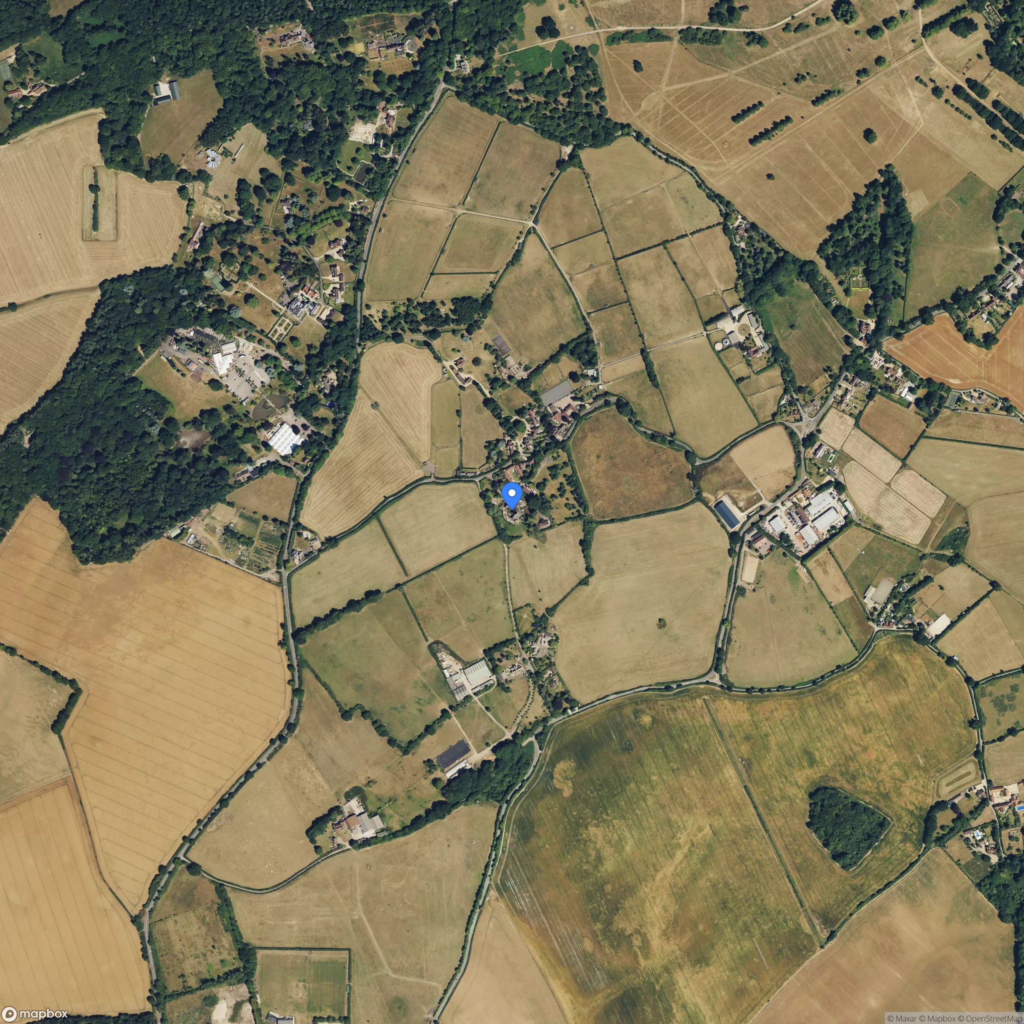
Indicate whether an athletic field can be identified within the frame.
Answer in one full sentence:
Yes, the frame does contain an athletic field.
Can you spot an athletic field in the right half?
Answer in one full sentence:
No, I see no athletic field in the right half.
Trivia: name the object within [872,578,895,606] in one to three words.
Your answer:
building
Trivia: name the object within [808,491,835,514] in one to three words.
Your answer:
building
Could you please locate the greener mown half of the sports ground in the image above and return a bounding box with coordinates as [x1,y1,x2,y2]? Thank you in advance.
[308,959,348,1015]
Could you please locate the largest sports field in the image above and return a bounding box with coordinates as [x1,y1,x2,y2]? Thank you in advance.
[257,951,347,1017]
